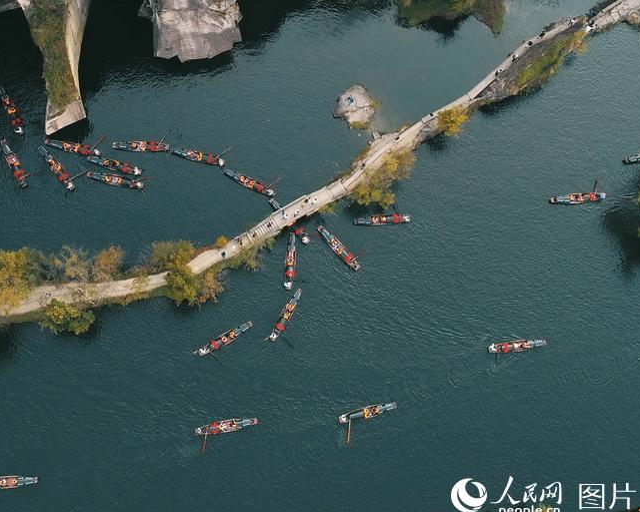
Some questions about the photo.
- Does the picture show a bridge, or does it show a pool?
bridge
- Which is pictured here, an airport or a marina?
marina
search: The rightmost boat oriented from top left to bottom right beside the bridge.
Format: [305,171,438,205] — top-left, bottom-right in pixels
[316,224,362,273]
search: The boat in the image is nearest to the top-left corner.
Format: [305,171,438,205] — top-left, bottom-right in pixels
[0,86,26,136]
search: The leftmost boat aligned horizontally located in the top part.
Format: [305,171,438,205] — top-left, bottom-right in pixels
[44,140,103,157]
